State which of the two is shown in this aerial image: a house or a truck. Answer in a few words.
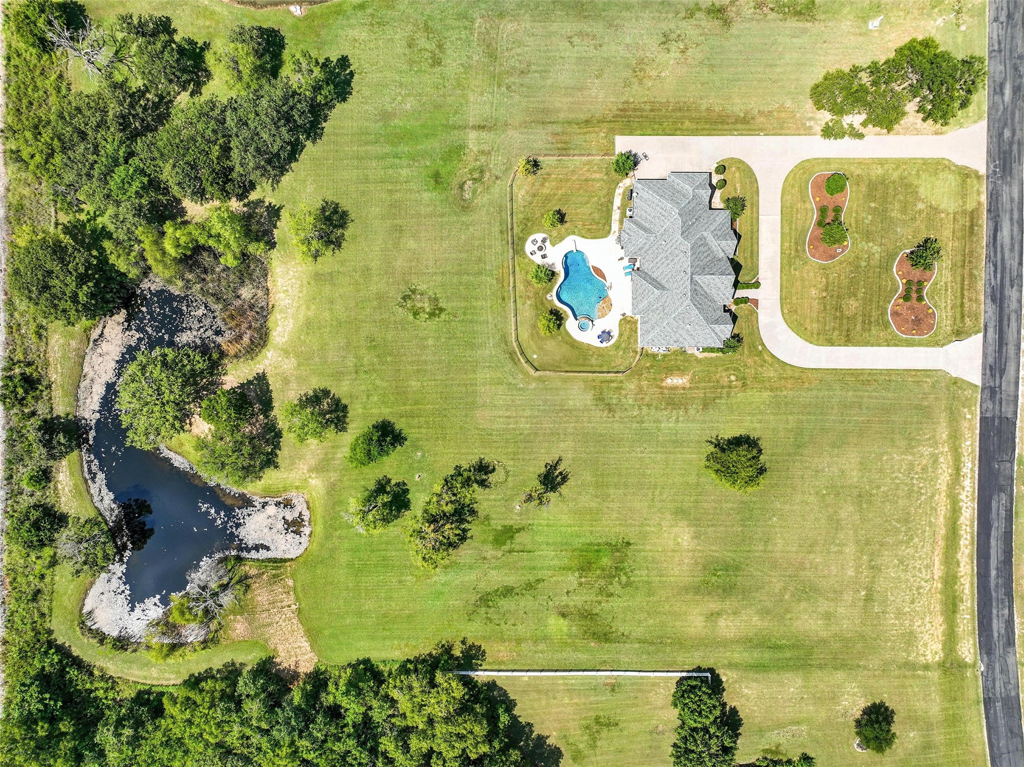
house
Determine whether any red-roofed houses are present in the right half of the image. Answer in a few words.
No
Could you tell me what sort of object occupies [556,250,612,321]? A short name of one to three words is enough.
swimming pool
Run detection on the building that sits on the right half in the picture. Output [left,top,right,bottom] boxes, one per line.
[620,172,738,348]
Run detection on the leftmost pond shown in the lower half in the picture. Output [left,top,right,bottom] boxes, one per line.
[77,280,313,643]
